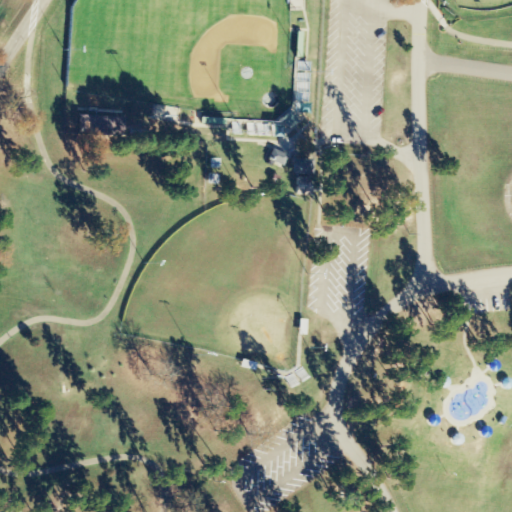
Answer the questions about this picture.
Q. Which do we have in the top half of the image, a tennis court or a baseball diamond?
baseball diamond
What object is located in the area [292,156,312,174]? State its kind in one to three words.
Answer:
building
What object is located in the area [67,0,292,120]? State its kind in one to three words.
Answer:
baseball field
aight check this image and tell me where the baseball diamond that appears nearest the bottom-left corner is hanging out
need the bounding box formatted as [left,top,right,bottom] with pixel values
[122,195,310,370]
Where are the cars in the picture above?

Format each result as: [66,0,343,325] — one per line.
[375,106,386,117]
[331,138,343,144]
[494,298,500,310]
[376,28,387,39]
